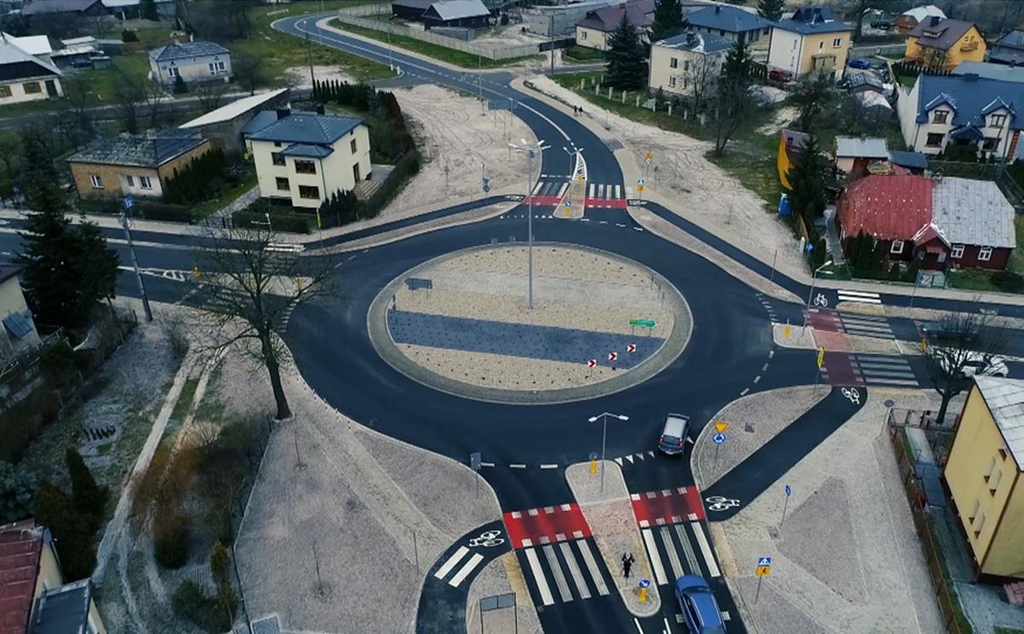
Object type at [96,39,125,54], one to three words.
shed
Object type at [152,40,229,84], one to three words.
house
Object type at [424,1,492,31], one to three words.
barn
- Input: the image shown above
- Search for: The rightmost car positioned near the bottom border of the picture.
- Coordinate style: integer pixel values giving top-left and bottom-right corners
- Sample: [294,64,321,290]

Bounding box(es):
[674,574,732,634]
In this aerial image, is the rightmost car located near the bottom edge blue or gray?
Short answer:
blue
